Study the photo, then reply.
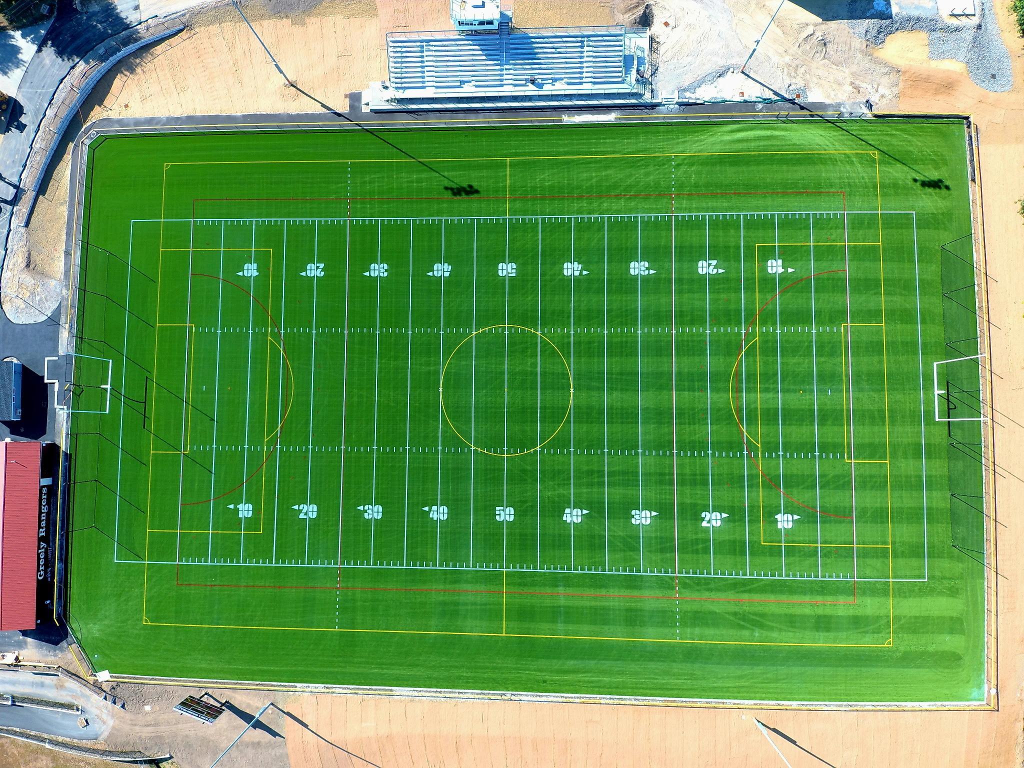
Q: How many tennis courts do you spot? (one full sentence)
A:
Not a single tennis court can be seen.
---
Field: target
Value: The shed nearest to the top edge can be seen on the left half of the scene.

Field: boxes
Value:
[0,360,29,422]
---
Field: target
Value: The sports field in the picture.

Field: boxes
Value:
[62,119,986,703]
